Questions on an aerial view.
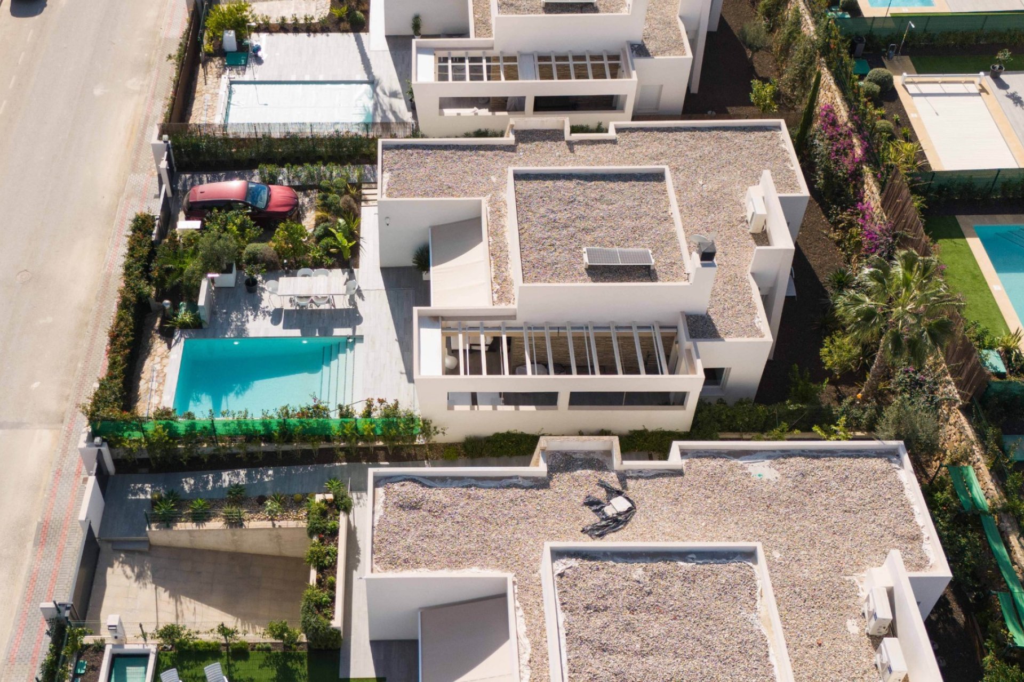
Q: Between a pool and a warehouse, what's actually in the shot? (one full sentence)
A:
The image shows a pool.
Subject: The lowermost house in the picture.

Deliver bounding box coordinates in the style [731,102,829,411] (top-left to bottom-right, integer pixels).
[363,436,949,682]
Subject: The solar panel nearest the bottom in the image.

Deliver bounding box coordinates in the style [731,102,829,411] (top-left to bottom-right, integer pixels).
[583,246,656,273]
